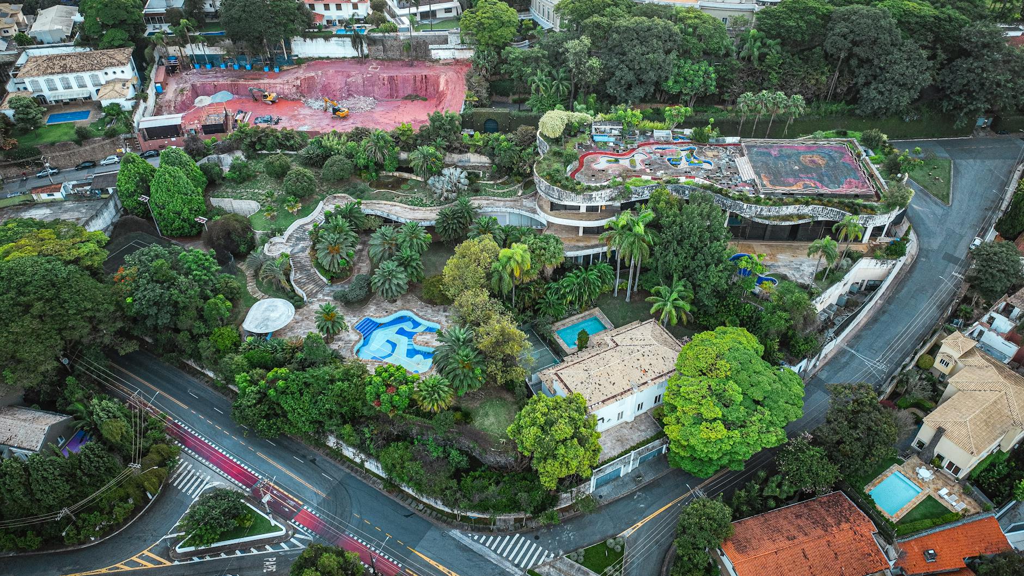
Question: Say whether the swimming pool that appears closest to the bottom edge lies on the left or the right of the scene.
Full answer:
The swimming pool that appears closest to the bottom edge sits on the right side.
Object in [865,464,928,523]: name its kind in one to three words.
swimming pool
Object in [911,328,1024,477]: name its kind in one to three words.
house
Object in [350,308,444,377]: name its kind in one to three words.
swimming pool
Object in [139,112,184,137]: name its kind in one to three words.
shed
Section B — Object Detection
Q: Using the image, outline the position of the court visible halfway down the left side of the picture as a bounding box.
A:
[101,231,239,311]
